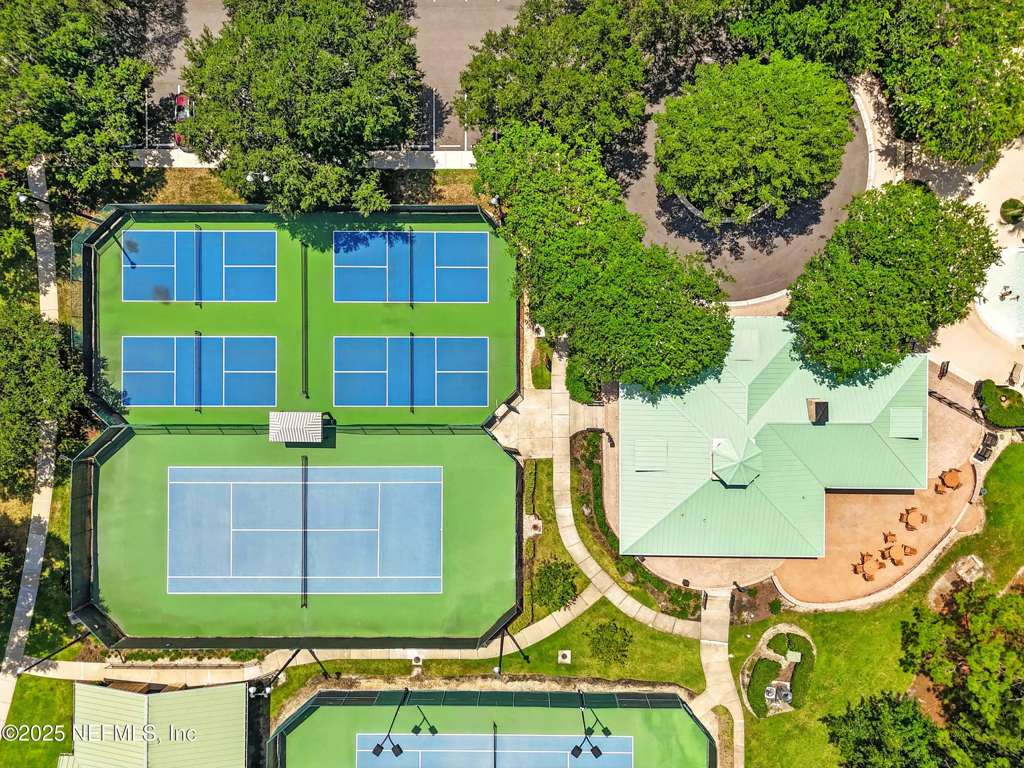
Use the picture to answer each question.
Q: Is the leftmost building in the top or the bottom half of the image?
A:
bottom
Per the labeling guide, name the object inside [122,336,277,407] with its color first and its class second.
blue sports court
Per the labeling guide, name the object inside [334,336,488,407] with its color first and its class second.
blue sports court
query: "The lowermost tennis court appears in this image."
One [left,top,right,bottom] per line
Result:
[279,703,707,768]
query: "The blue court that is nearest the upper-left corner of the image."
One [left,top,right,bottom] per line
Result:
[122,230,277,302]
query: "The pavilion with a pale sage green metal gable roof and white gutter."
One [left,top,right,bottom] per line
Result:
[60,682,251,768]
